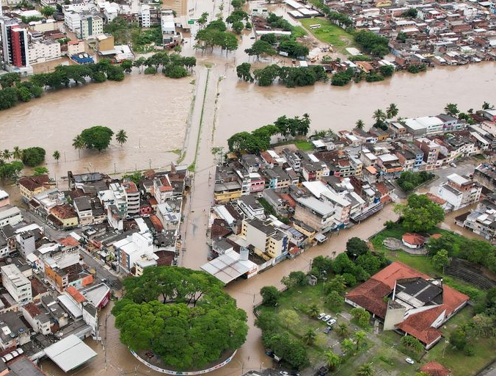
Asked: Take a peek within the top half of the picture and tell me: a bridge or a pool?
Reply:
bridge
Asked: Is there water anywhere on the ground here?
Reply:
Yes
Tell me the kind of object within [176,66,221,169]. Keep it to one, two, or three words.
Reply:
bridge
